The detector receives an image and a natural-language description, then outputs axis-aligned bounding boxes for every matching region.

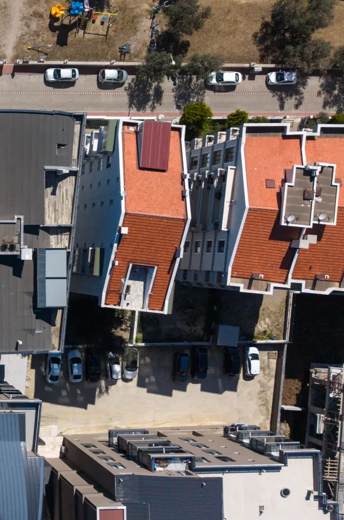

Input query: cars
[265,70,298,86]
[105,350,124,381]
[222,346,241,377]
[66,349,84,383]
[190,347,210,379]
[44,67,79,83]
[45,351,63,385]
[85,351,103,383]
[207,72,242,86]
[296,112,314,129]
[97,69,128,85]
[171,351,191,383]
[122,346,140,378]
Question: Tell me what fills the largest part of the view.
buildings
